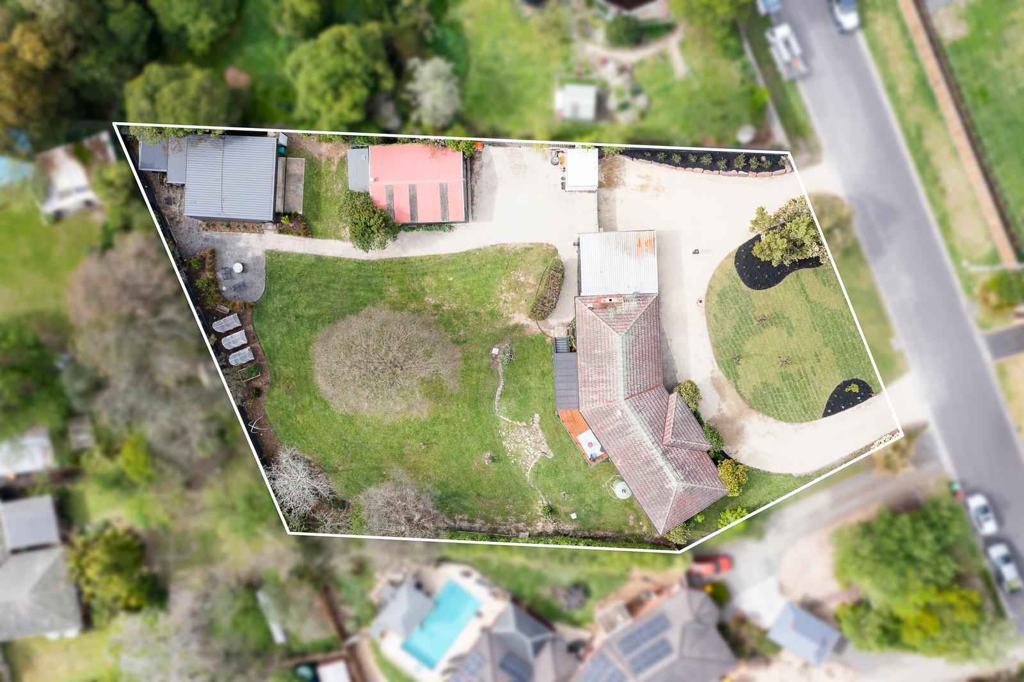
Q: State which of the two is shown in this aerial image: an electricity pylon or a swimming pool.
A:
swimming pool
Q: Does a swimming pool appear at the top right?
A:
No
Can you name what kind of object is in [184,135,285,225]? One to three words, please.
shed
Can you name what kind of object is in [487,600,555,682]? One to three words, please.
house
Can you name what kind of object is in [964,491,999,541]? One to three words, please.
car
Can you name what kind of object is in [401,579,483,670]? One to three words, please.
swimming pool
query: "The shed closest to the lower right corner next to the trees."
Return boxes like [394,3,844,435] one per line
[761,595,840,667]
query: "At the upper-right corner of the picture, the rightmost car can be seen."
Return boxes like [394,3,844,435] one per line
[828,0,862,35]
